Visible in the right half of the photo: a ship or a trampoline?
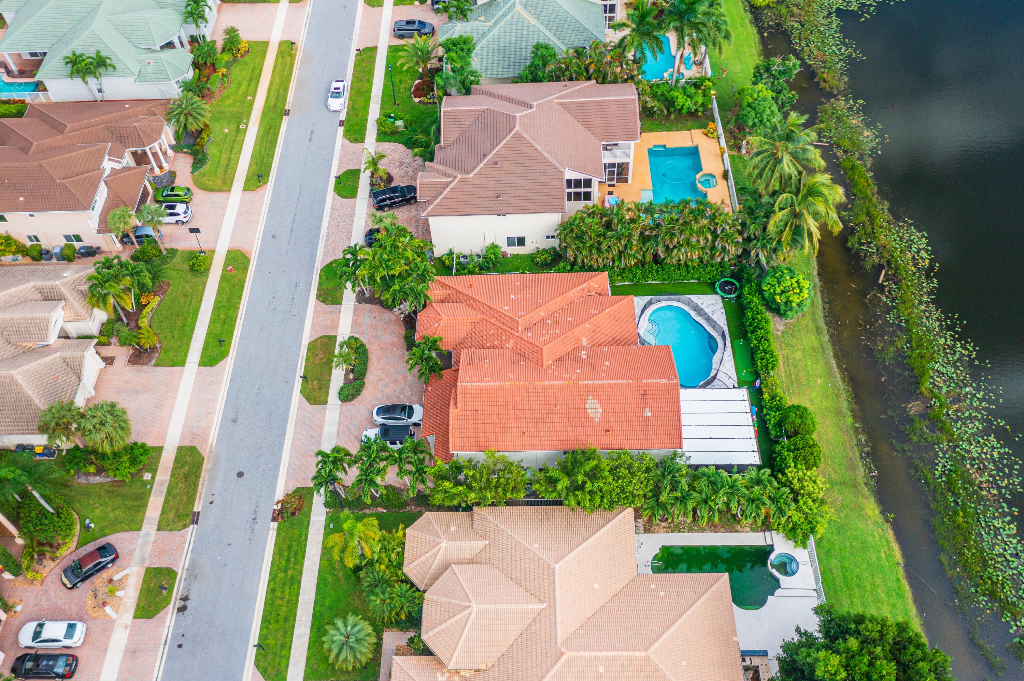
trampoline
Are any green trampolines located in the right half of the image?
Yes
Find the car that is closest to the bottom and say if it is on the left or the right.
left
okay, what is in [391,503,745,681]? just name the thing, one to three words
house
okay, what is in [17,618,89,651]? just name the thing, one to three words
car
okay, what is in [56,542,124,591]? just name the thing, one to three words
car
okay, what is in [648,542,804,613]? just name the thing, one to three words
swimming pool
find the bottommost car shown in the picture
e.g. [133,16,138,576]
[9,649,82,681]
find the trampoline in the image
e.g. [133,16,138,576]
[712,274,743,311]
